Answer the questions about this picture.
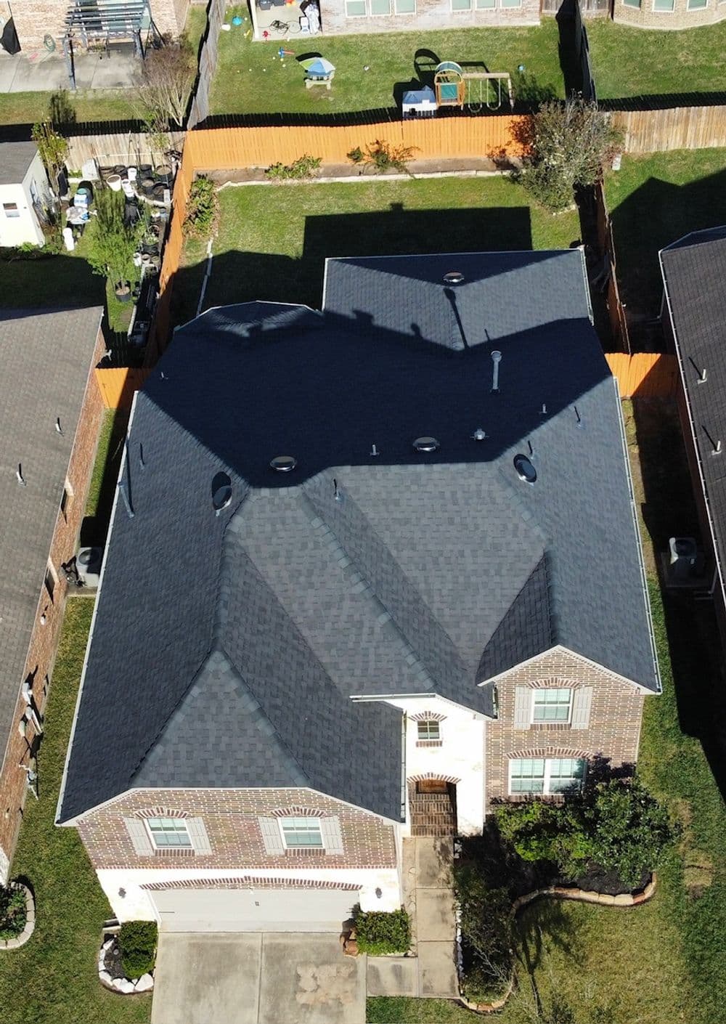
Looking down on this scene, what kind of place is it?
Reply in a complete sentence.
What you see here is a residential area.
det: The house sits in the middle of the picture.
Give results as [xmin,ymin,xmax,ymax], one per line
[49,249,666,933]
